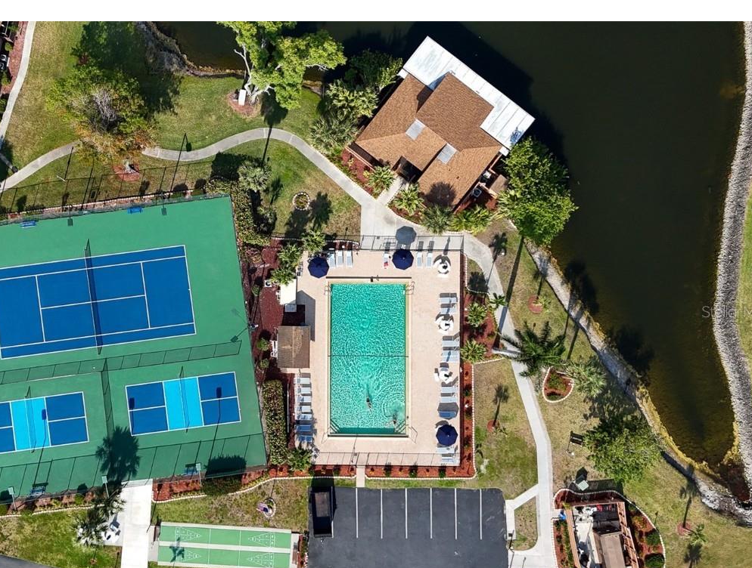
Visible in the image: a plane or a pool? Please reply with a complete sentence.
It is a pool that can be seen here.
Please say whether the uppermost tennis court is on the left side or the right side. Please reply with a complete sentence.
You can find the uppermost tennis court on the left side of the picture.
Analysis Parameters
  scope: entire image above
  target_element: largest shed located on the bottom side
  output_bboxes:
[278,326,310,368]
